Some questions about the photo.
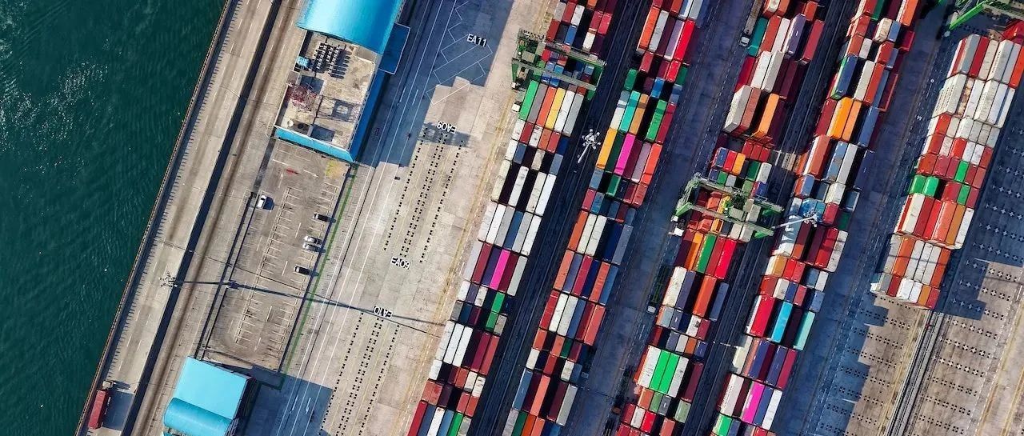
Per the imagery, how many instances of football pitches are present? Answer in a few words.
0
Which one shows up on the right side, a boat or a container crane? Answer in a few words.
container crane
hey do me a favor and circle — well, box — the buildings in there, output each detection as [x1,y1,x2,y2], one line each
[273,0,412,162]
[157,356,259,436]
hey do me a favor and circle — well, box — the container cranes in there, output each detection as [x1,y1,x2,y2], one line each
[668,175,784,244]
[506,29,607,112]
[942,0,1024,50]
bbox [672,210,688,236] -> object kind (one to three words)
vehicle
